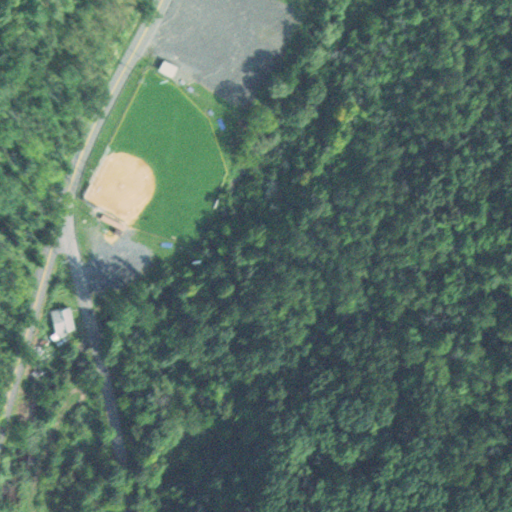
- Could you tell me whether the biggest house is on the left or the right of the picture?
left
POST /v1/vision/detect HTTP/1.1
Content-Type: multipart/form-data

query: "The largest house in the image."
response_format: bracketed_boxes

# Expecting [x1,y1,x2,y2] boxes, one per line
[51,308,74,336]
